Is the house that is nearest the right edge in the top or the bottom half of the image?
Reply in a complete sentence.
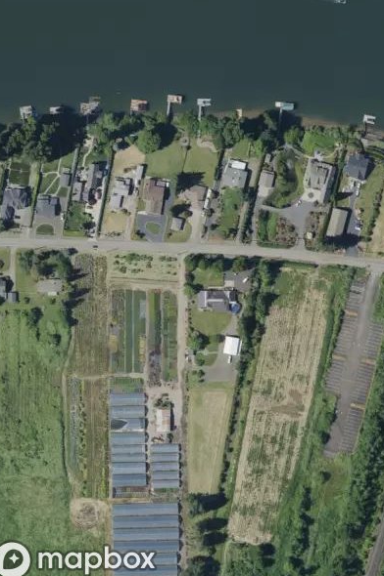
It is in the top half that the house that is nearest the right edge appears.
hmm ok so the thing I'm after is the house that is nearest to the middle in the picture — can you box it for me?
[197,291,236,310]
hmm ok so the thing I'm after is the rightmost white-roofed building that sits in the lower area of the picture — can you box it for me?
[224,337,243,355]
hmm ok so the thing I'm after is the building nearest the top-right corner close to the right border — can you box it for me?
[344,155,368,180]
